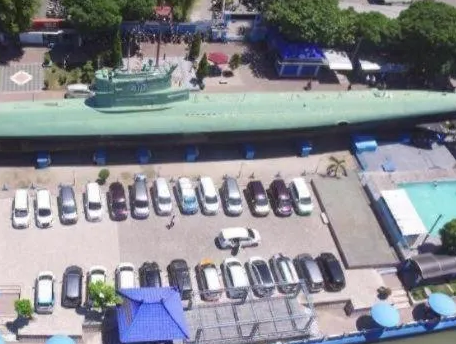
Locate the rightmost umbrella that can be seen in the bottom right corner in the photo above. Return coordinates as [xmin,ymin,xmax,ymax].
[426,293,456,321]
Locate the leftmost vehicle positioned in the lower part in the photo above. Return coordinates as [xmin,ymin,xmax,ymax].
[10,190,30,227]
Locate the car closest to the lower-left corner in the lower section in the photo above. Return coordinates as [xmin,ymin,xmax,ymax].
[33,276,55,311]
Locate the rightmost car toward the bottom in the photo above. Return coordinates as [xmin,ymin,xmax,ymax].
[315,254,347,293]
